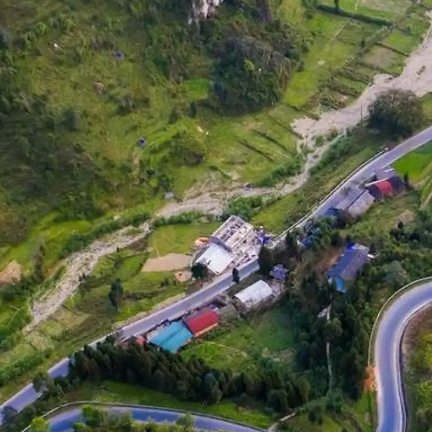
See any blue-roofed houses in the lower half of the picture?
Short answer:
Yes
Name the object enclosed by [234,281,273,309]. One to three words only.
house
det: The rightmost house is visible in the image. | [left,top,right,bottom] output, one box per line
[366,176,406,201]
